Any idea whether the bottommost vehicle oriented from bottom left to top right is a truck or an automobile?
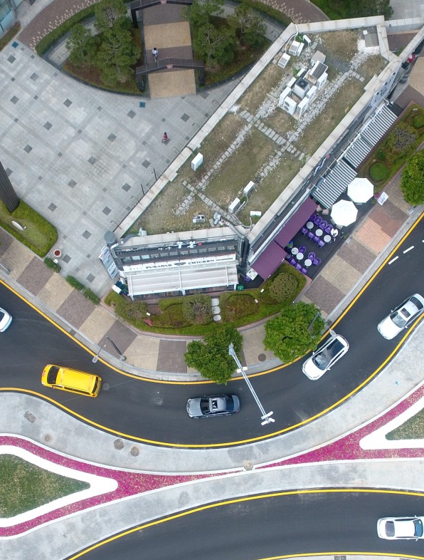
automobile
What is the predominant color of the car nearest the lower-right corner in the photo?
white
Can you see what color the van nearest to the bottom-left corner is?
yellow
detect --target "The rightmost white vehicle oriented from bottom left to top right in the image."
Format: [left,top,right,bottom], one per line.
[375,291,424,342]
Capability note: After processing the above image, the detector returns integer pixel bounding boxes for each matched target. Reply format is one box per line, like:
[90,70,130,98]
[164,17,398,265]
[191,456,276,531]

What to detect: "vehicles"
[0,307,14,334]
[184,393,243,421]
[375,514,424,543]
[375,291,424,342]
[39,363,102,399]
[300,331,352,382]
